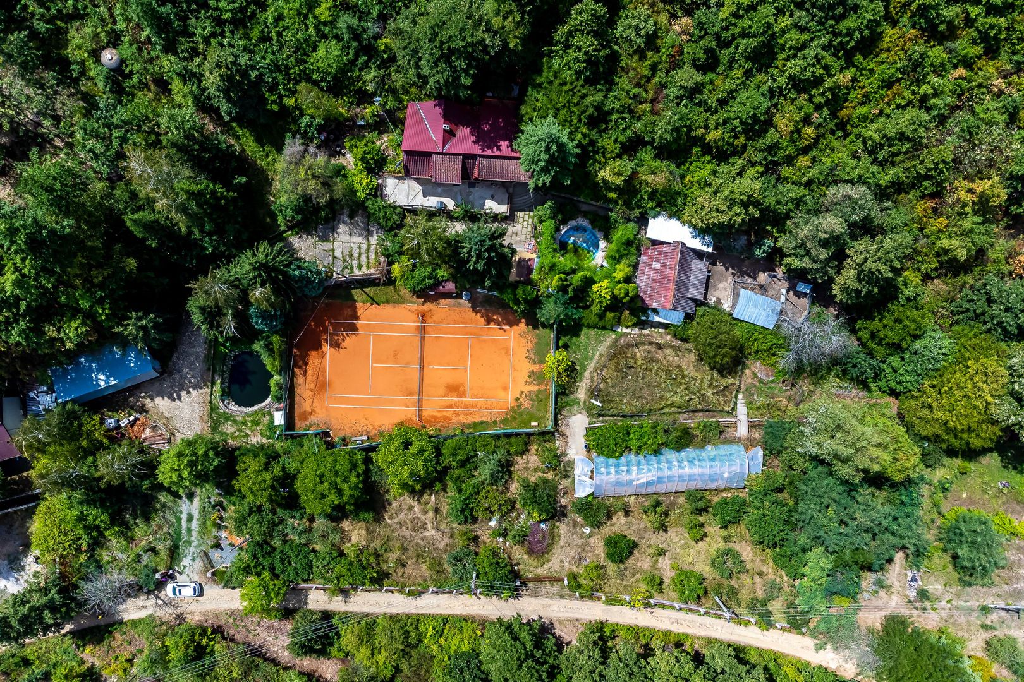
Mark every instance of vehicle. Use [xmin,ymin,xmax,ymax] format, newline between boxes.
[157,573,176,583]
[164,582,201,601]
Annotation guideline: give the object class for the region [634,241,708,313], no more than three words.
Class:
barn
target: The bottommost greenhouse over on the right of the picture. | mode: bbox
[575,443,762,497]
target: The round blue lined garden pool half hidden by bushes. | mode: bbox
[554,217,611,270]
